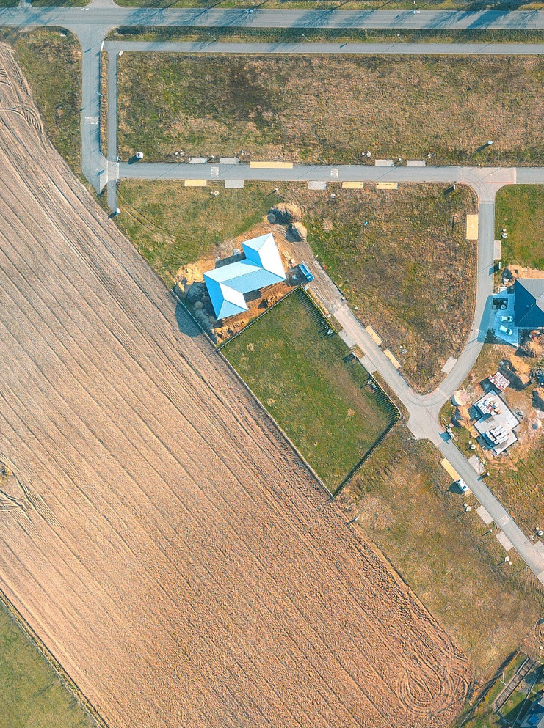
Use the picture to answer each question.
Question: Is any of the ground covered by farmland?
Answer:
Yes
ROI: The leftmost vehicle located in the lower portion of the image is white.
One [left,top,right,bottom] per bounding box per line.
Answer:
[456,479,469,494]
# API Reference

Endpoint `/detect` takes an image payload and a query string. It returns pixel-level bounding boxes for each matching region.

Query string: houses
[515,279,544,327]
[521,690,544,728]
[203,233,288,319]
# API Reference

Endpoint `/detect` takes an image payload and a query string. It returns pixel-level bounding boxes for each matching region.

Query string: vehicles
[499,324,512,336]
[500,316,513,322]
[296,261,313,282]
[456,479,469,494]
